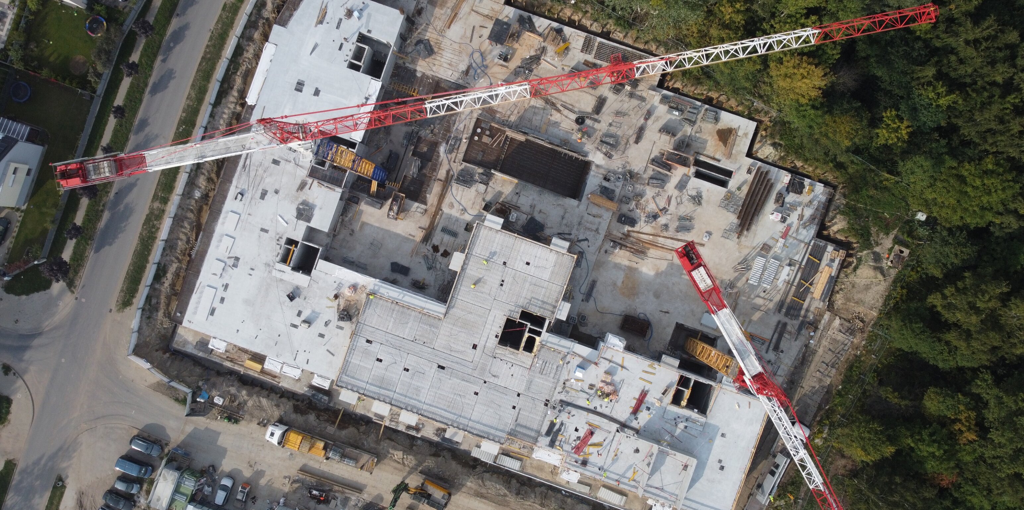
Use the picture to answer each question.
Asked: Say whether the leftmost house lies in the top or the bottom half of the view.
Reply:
top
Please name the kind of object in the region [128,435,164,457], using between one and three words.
car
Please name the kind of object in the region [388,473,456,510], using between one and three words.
work vehicle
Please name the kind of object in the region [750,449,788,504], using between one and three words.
shed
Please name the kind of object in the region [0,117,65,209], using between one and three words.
house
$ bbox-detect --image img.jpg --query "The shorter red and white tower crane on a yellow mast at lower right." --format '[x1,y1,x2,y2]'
[673,237,839,510]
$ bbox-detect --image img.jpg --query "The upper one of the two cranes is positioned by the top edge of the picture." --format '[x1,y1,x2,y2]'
[48,6,938,194]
